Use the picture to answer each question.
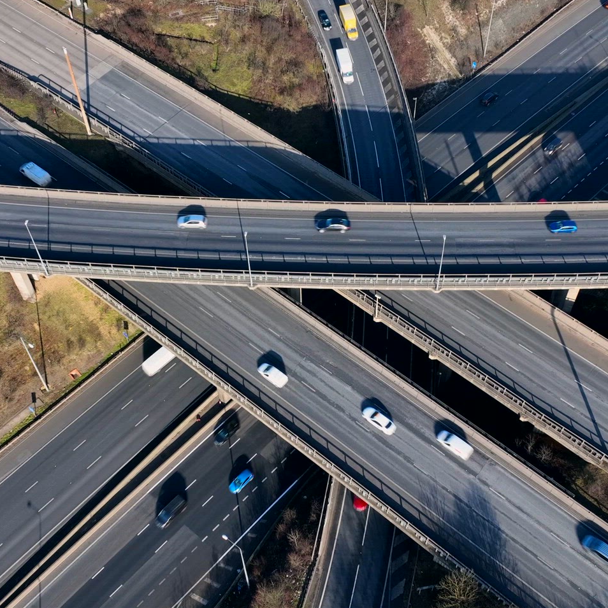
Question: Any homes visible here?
No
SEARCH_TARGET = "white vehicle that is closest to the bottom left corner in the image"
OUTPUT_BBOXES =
[146,350,172,375]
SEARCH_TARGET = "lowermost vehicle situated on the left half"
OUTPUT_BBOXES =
[155,497,188,528]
